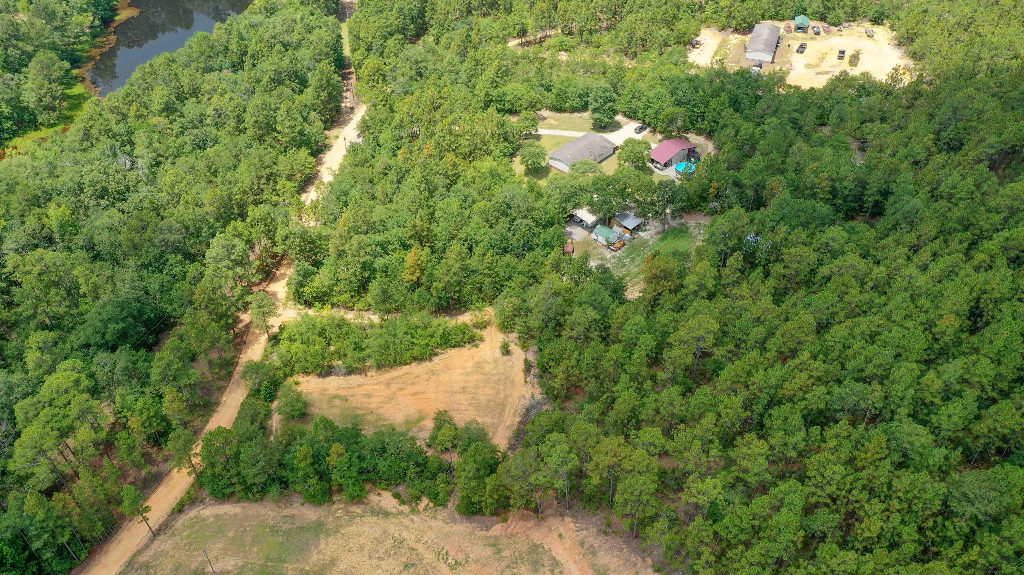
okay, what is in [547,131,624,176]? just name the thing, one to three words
house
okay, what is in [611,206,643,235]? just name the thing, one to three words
barn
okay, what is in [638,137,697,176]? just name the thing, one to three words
barn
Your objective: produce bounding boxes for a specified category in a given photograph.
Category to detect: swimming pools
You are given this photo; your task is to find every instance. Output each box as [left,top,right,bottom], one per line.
[674,159,697,174]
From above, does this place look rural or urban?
rural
